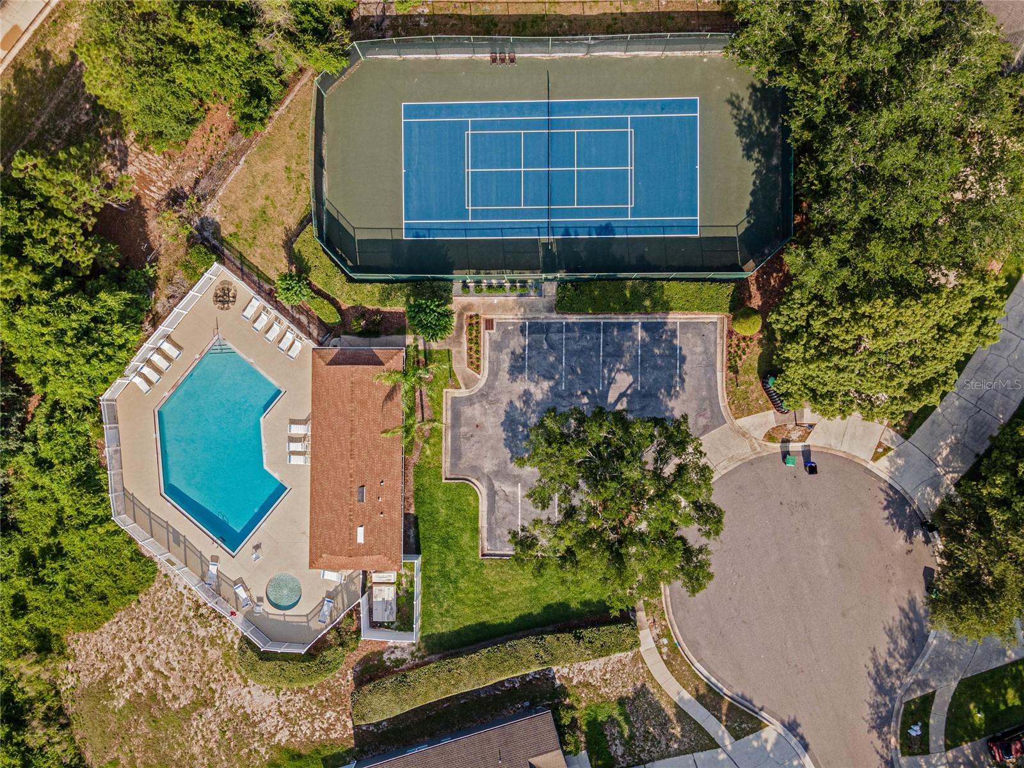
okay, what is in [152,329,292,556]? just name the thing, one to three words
swimming pool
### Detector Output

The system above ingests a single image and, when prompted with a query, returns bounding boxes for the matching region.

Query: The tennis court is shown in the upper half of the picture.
[323,53,777,278]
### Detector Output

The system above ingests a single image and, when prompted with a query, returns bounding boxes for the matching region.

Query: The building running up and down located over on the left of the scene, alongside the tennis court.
[311,346,406,571]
